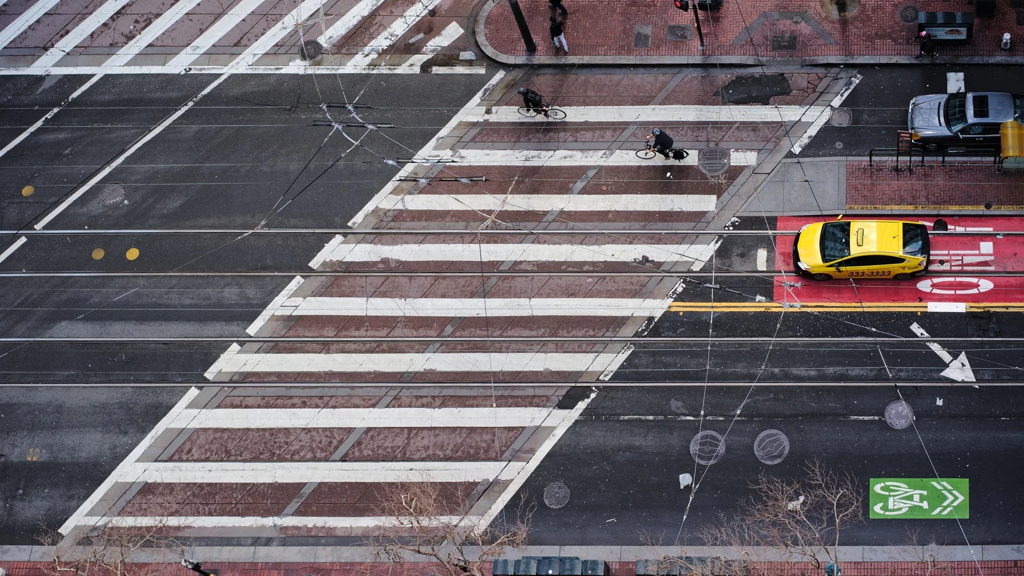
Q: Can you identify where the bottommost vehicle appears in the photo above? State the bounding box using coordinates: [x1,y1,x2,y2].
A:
[792,213,931,279]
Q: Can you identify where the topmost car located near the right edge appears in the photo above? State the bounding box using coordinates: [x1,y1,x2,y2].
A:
[907,86,1024,150]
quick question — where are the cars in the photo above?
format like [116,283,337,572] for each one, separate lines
[792,213,931,279]
[907,86,1024,150]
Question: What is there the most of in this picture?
paved ground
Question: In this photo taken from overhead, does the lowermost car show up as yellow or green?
yellow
